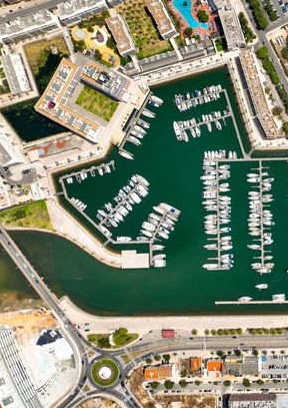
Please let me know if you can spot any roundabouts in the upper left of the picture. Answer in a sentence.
No, no roundabout appears in the upper left of the picture.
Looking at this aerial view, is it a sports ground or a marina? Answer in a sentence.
The area seen from above is a marina.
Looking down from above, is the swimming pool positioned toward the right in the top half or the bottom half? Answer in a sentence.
The top half of the photo is where the swimming pool positioned toward the right is.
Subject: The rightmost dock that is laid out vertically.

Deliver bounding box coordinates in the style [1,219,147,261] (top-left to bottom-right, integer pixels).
[250,160,273,268]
